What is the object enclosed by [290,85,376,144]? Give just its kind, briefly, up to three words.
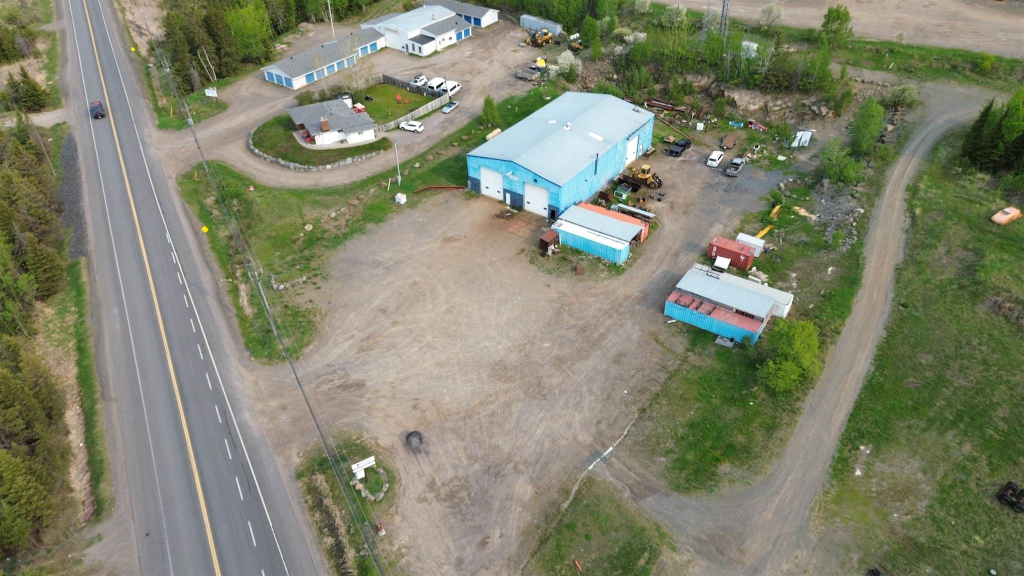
house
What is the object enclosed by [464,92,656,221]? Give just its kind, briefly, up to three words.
building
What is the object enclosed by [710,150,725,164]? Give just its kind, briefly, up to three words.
car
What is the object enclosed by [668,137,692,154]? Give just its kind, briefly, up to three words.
vehicle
